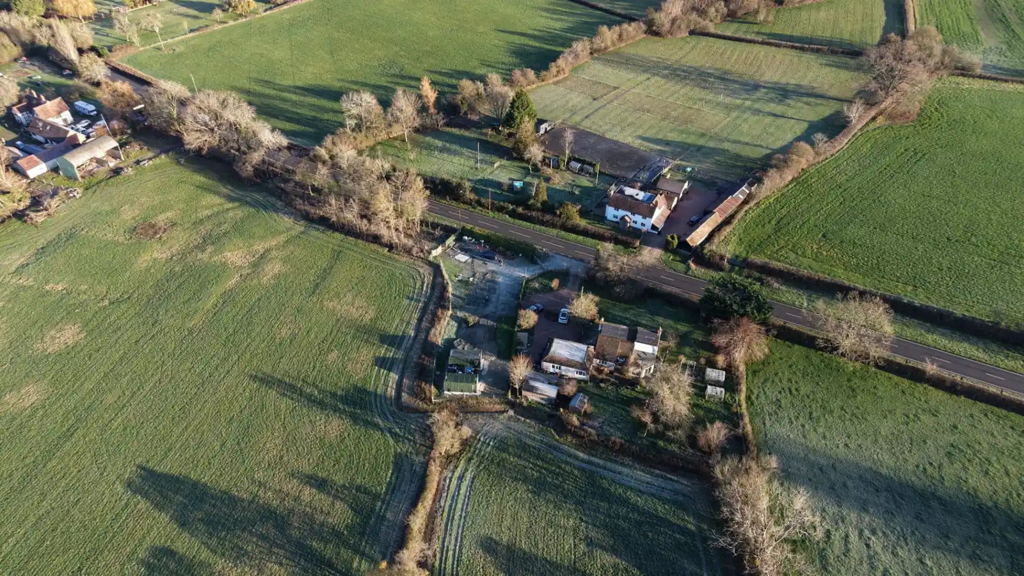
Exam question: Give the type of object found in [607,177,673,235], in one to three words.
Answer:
house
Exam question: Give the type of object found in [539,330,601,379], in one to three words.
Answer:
house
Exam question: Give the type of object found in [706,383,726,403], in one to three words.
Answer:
greenhouse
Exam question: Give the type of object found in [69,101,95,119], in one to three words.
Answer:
camper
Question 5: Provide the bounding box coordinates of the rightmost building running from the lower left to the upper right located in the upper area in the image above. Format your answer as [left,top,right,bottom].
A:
[682,175,757,253]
